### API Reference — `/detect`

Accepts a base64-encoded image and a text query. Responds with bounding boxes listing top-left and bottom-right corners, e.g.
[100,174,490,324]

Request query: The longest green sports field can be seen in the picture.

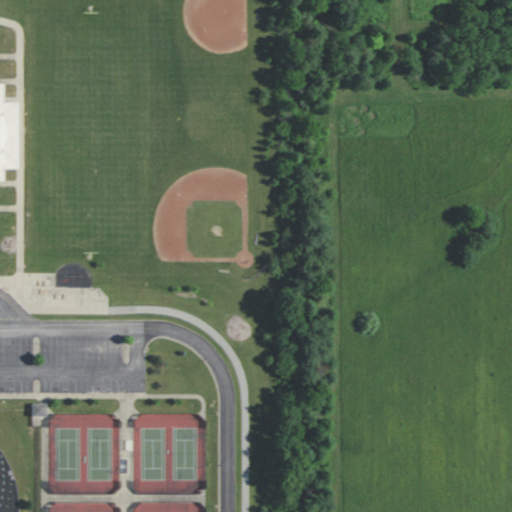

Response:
[36,14,144,252]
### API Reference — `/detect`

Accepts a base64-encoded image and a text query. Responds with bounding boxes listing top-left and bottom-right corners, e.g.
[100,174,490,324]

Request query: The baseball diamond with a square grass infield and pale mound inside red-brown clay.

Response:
[154,168,254,268]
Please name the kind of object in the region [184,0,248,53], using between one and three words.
baseball field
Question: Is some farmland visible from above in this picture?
Yes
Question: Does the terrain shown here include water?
No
